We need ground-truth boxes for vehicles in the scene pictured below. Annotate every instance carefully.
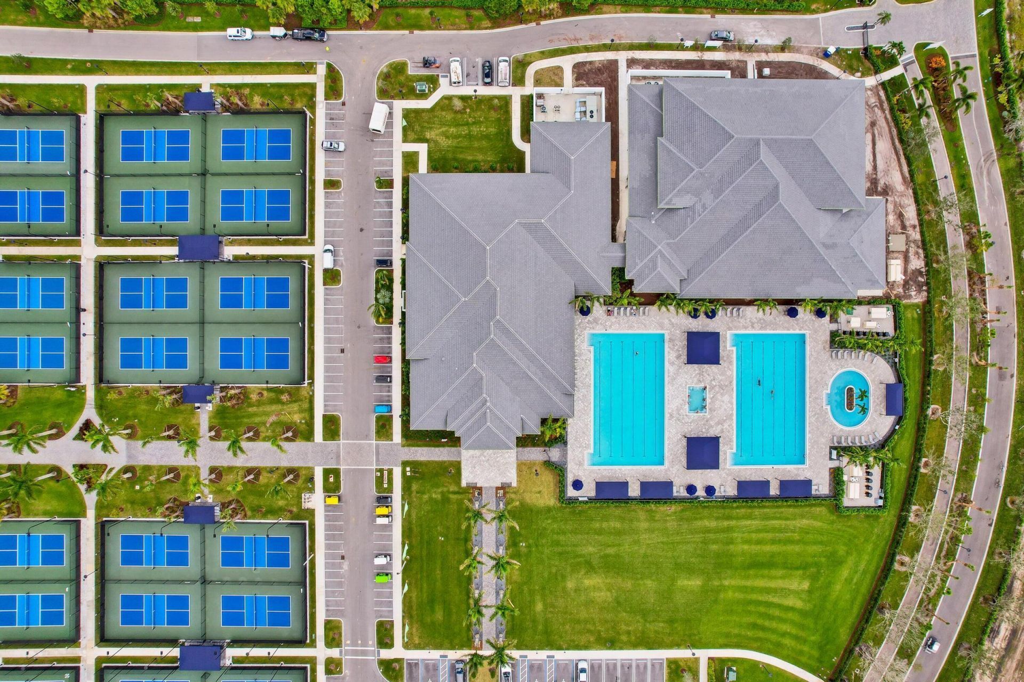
[375,573,392,583]
[226,26,253,40]
[321,245,334,269]
[324,496,341,504]
[375,505,392,514]
[375,405,391,413]
[449,56,462,86]
[454,661,465,682]
[577,660,588,682]
[322,139,345,151]
[376,259,393,267]
[502,663,511,682]
[374,554,390,564]
[376,496,392,505]
[375,376,392,383]
[371,103,388,134]
[922,638,943,654]
[293,27,326,42]
[481,60,493,85]
[375,356,391,363]
[710,30,734,41]
[497,56,509,86]
[375,515,392,524]
[413,56,438,67]
[822,44,838,59]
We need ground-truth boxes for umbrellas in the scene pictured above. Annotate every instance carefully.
[685,484,697,495]
[688,304,700,316]
[704,485,716,496]
[704,305,716,316]
[786,306,798,317]
[814,306,826,318]
[579,304,590,315]
[571,479,583,491]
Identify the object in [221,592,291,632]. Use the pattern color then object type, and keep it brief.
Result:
blue sports court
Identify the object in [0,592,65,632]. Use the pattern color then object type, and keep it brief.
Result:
blue sports court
